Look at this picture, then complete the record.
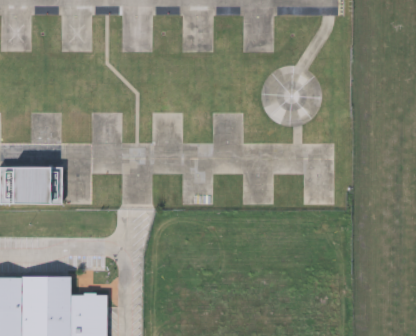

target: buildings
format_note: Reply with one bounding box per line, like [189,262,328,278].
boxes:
[0,166,63,205]
[0,277,72,336]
